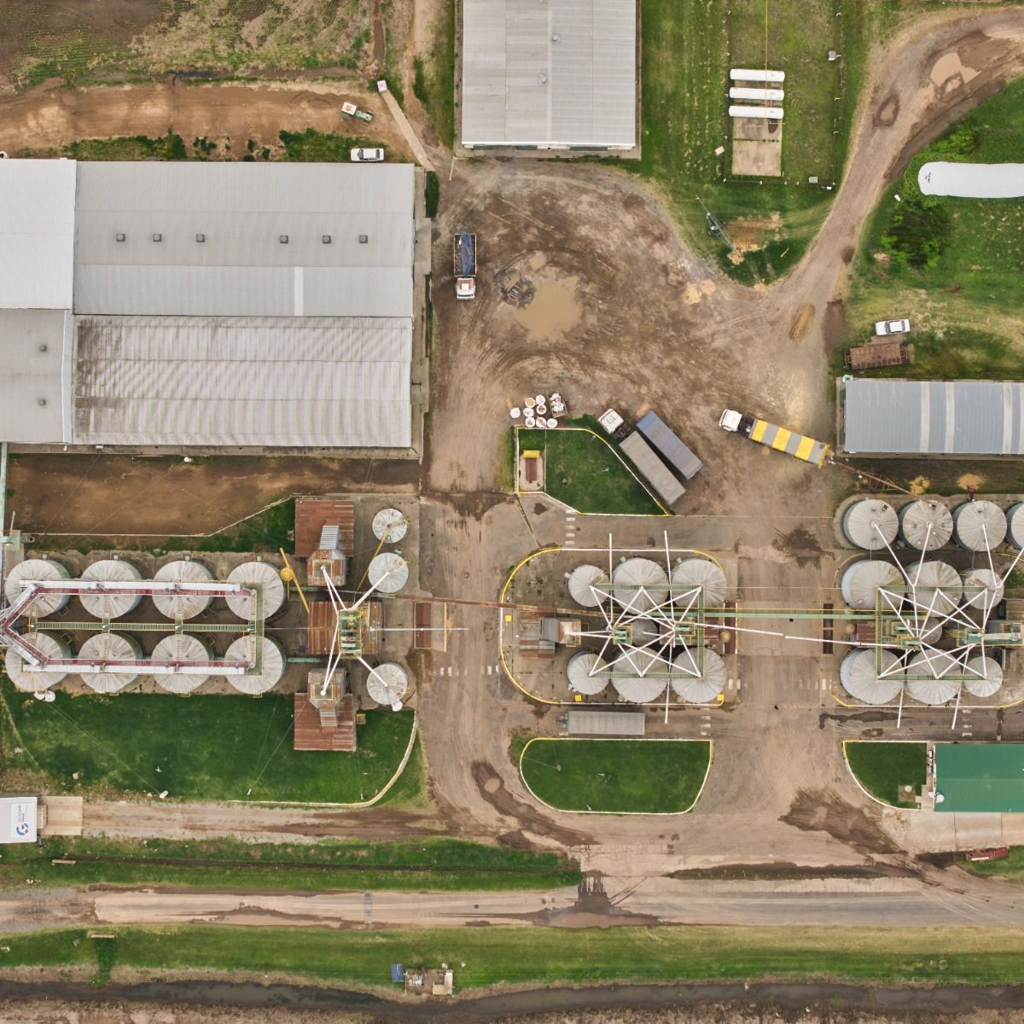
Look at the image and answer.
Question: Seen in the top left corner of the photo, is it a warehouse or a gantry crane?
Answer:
warehouse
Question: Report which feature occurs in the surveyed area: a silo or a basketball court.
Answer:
silo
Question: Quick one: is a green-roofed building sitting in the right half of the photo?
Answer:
Yes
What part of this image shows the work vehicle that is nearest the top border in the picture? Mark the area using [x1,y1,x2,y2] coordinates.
[341,98,372,126]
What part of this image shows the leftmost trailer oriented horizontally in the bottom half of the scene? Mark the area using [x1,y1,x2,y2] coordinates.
[556,710,645,735]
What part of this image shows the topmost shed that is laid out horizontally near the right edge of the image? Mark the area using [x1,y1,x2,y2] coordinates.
[840,380,1024,454]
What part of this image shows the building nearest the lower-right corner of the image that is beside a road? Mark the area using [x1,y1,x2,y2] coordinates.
[933,742,1024,812]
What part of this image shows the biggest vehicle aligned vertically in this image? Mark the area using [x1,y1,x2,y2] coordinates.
[453,231,477,303]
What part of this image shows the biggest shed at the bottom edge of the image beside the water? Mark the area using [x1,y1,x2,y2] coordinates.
[404,969,453,999]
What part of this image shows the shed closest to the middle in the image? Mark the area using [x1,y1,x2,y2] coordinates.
[523,450,540,481]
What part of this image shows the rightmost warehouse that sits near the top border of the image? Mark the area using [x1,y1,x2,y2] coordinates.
[461,0,637,151]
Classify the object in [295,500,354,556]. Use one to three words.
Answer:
shed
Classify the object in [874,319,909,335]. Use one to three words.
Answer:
car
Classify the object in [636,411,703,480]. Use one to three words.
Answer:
trailer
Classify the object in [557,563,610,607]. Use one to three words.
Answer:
silo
